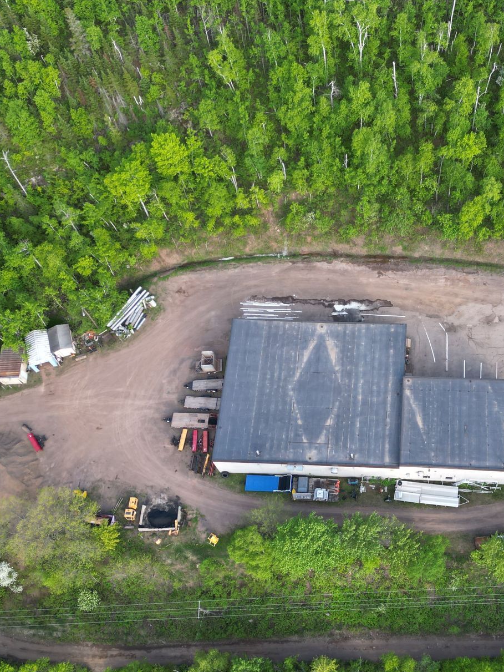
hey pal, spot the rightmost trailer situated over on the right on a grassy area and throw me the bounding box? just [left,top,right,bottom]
[394,481,469,508]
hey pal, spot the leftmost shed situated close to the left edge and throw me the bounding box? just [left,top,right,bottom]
[0,347,29,384]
